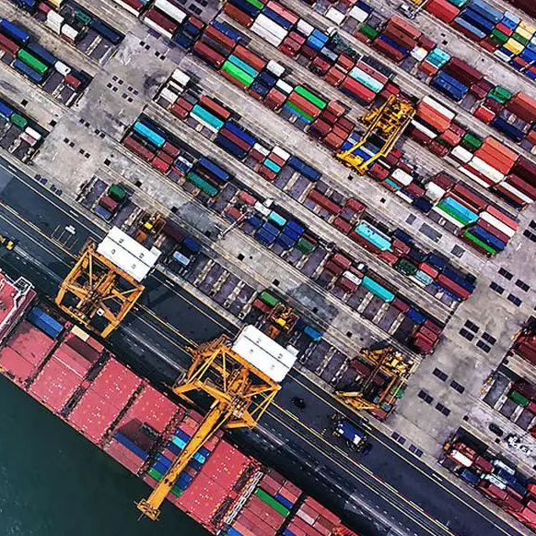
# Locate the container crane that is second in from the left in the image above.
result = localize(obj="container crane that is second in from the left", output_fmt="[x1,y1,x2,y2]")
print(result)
[134,302,308,523]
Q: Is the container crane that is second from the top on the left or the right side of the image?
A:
left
